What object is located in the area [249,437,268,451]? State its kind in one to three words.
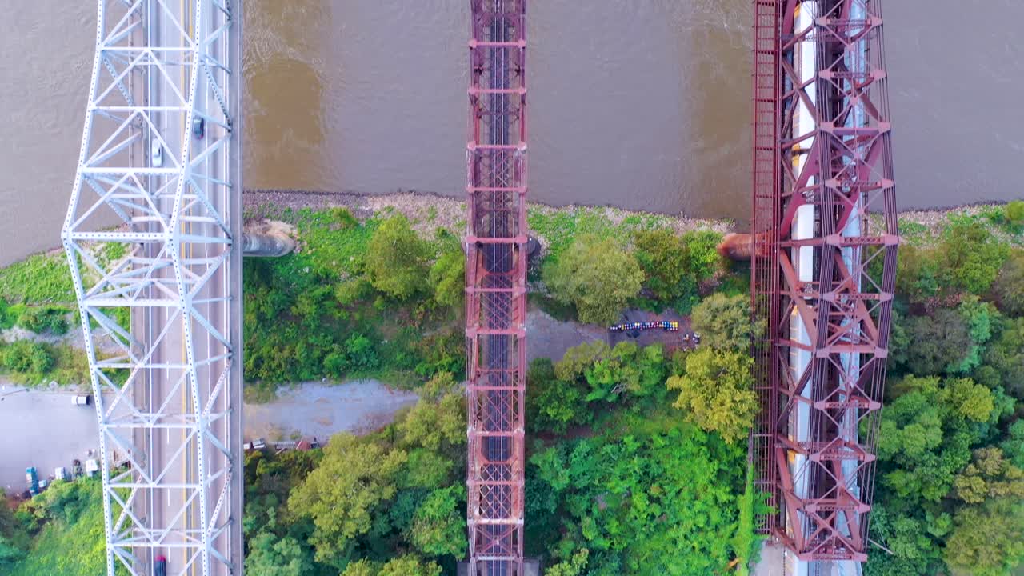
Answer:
vehicle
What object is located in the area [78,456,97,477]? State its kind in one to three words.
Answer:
vehicle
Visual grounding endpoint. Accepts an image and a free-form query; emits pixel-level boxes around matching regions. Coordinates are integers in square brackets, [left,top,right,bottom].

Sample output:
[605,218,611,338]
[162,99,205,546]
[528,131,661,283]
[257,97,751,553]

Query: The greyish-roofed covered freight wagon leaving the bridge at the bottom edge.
[784,448,810,576]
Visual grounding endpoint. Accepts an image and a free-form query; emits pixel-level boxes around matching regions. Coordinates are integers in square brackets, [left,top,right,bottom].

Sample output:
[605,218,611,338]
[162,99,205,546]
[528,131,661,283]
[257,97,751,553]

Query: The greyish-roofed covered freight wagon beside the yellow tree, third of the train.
[787,303,814,450]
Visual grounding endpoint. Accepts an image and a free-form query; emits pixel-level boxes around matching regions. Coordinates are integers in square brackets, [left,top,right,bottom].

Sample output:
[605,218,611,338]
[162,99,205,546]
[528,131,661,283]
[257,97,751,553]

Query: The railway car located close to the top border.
[793,0,820,153]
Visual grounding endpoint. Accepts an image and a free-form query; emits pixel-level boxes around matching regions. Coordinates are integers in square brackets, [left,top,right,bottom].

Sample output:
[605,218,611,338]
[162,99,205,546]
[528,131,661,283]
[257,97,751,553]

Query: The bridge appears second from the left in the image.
[461,0,537,576]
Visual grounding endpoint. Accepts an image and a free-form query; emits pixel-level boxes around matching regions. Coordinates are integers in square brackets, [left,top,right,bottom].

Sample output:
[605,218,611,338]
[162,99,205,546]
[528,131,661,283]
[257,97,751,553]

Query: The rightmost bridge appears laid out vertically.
[716,0,899,576]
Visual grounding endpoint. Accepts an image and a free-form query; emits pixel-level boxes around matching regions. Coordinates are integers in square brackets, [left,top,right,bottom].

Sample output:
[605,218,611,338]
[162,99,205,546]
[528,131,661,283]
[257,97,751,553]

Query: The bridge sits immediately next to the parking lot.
[58,0,291,576]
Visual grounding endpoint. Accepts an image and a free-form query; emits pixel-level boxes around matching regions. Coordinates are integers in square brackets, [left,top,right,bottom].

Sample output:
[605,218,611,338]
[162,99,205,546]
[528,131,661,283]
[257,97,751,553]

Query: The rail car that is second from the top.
[790,152,816,302]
